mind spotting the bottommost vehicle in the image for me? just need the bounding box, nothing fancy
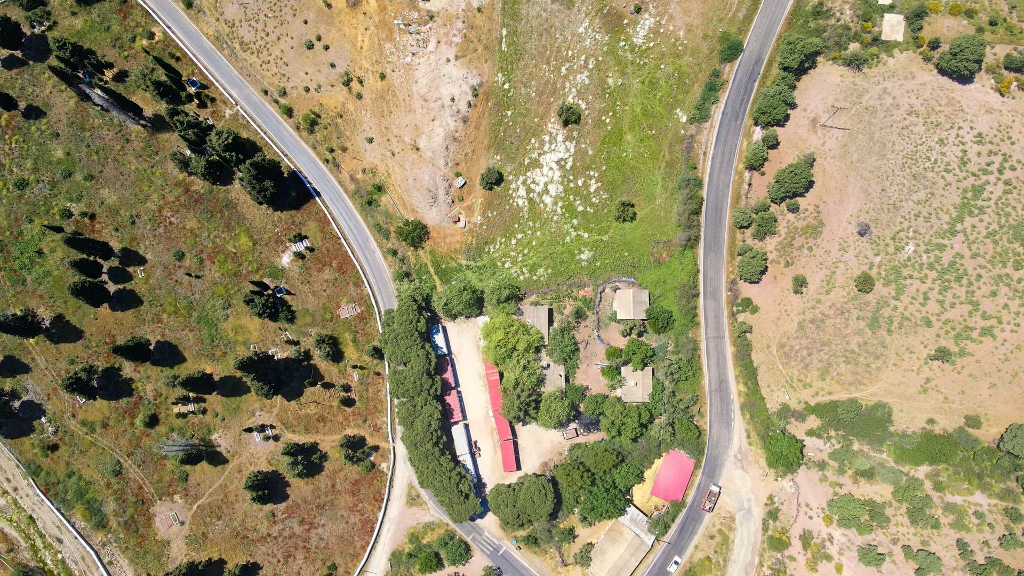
[668,554,680,574]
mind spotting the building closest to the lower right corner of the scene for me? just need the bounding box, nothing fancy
[651,449,695,501]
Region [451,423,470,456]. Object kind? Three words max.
shed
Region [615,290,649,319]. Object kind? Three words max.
house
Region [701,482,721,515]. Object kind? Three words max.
vehicle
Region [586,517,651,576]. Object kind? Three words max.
barn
